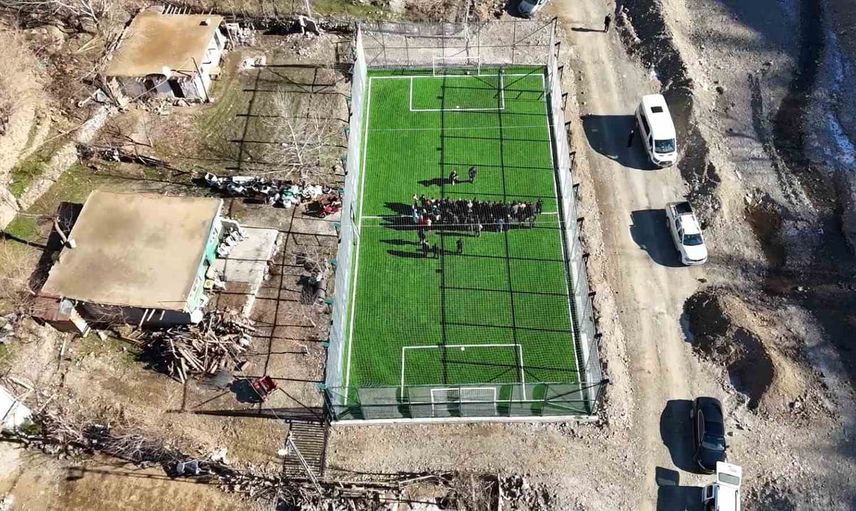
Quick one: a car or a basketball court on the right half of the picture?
car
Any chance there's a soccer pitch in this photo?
Yes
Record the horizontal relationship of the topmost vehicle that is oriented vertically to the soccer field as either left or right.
to the right of it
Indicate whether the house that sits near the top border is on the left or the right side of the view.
left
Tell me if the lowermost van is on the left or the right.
right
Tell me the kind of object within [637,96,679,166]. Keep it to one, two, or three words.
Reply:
vehicle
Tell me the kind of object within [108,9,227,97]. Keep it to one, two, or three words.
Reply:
house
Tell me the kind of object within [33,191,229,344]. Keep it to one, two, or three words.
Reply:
house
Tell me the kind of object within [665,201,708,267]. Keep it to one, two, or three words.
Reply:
truck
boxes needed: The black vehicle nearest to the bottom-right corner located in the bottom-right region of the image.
[689,397,731,476]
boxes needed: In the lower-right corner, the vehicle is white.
[705,468,746,511]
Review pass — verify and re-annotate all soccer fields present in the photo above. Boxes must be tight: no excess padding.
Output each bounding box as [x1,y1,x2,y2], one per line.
[334,60,595,422]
